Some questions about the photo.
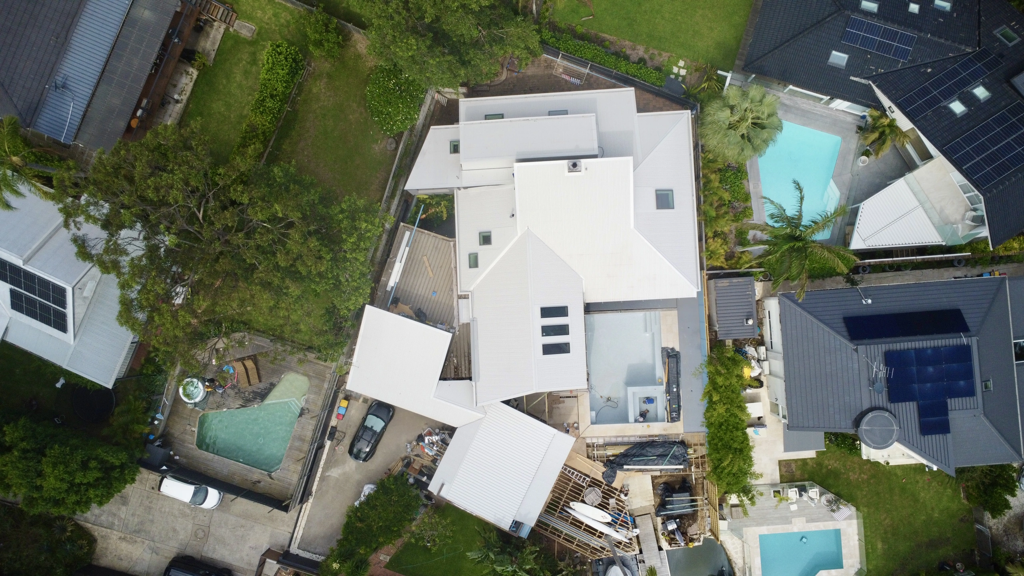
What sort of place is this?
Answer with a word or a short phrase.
residential area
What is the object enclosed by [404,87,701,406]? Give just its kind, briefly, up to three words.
house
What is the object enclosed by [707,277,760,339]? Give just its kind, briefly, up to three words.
shed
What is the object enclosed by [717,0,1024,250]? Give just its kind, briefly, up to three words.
house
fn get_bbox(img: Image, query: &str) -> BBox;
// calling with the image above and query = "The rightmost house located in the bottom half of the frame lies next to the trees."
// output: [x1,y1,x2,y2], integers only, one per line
[764,275,1024,479]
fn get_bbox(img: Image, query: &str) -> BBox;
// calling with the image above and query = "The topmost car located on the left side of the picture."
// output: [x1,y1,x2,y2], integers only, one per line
[350,400,394,465]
